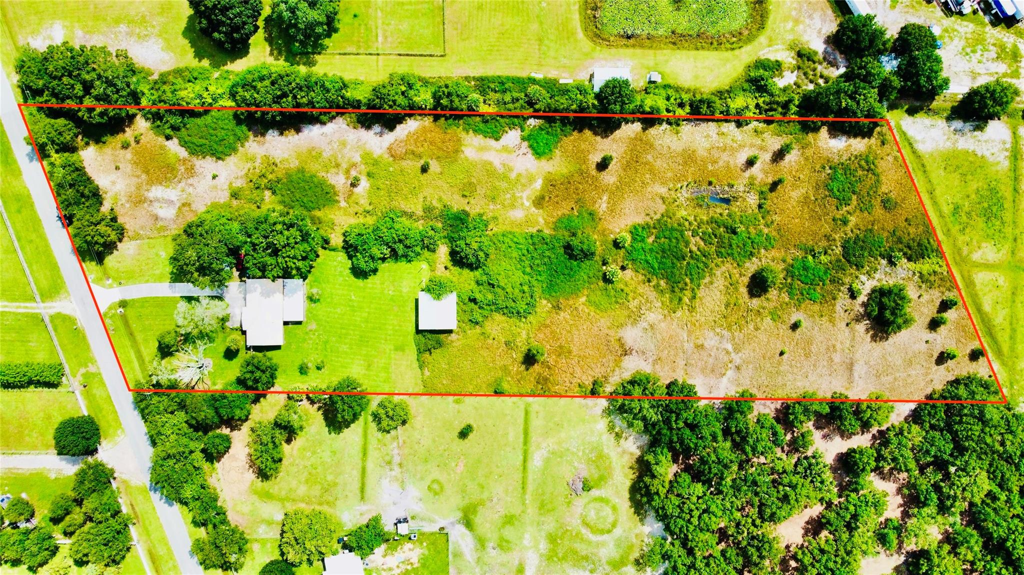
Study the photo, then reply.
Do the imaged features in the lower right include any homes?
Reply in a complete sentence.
No, there is no home in the lower right.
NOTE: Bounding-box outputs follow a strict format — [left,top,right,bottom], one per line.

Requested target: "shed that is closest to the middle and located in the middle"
[419,292,456,330]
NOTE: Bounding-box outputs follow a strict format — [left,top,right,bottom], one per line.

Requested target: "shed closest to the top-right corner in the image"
[876,51,901,72]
